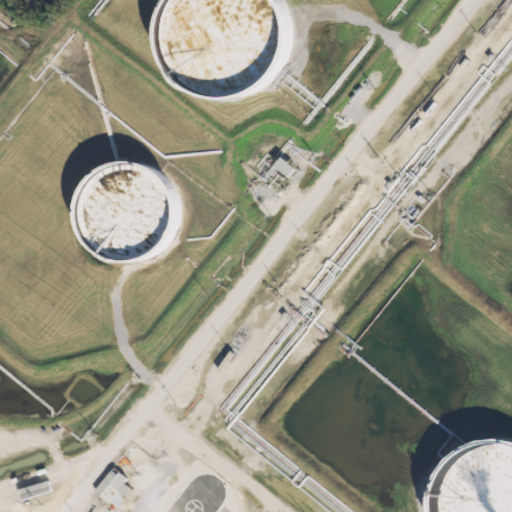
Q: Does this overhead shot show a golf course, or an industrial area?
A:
industrial area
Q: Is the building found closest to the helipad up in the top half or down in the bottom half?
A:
bottom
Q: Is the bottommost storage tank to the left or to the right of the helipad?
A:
on its right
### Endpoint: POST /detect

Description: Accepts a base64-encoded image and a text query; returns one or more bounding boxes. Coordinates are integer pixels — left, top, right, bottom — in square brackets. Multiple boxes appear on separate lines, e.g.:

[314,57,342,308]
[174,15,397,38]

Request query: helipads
[168,474,224,512]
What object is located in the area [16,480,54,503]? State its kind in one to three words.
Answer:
building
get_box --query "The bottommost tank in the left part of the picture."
[72,160,182,266]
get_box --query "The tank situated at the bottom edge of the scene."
[422,437,512,512]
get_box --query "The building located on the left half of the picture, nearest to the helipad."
[96,470,132,498]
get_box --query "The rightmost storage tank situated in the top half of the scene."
[151,0,292,100]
